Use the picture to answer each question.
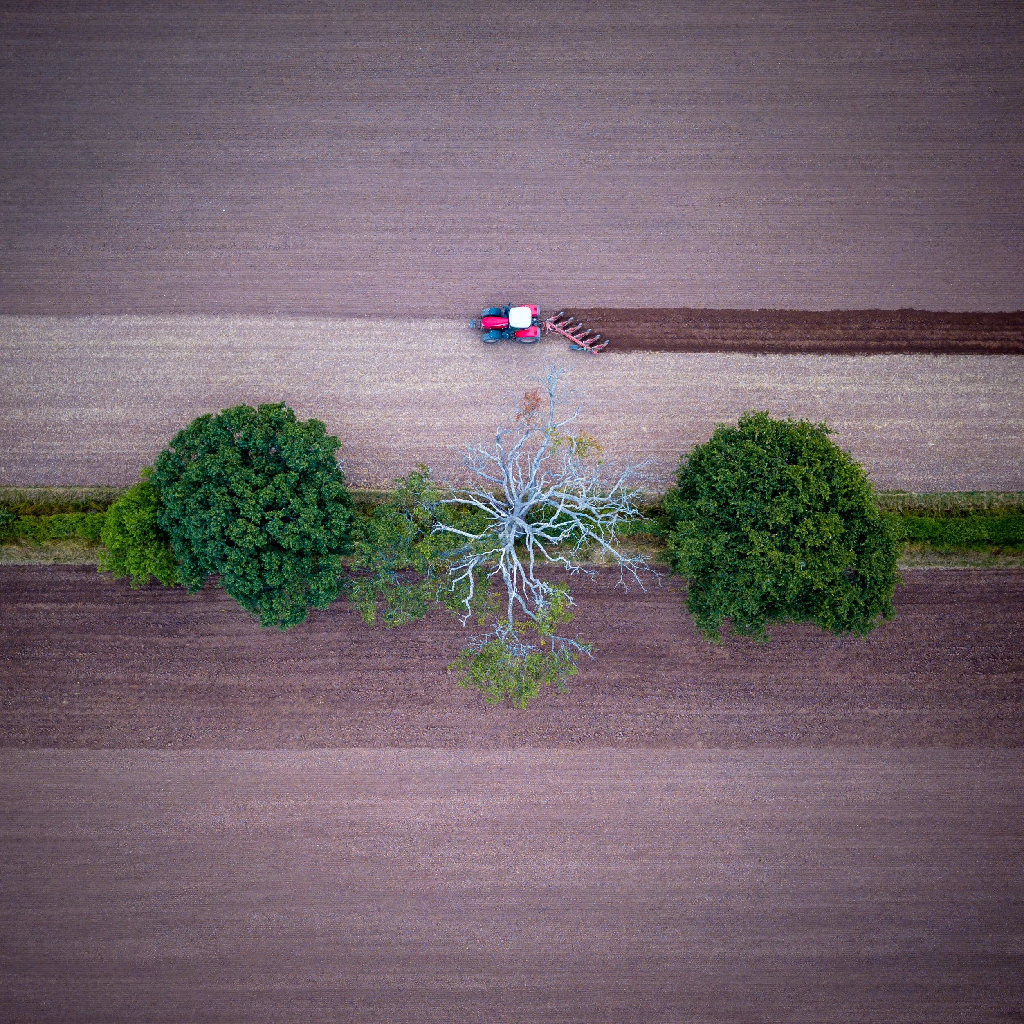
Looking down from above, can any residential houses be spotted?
No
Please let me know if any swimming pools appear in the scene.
No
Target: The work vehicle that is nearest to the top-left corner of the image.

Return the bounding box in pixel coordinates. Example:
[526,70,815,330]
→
[470,303,543,342]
